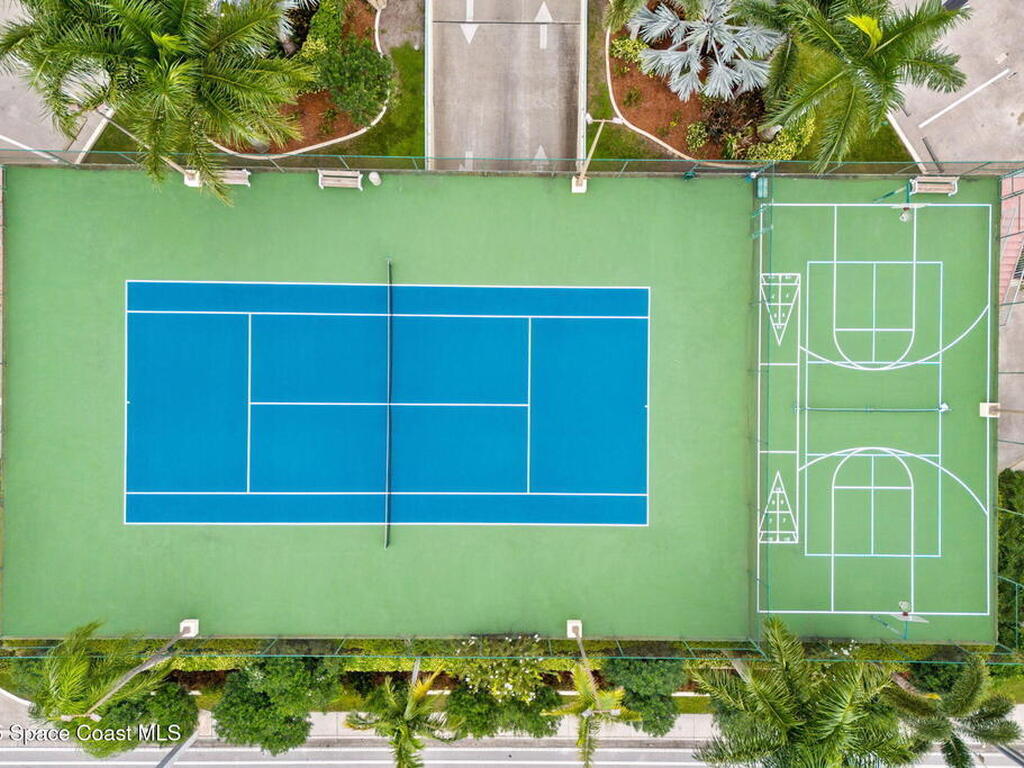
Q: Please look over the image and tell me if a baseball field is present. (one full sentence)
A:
No, there appears to be no baseball field in this shot.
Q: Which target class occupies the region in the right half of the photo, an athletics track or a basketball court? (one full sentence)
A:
There is a basketball court in the right half of the photo.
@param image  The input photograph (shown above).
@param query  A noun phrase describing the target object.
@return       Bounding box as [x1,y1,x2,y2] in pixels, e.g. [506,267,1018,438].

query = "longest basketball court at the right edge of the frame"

[747,179,1000,637]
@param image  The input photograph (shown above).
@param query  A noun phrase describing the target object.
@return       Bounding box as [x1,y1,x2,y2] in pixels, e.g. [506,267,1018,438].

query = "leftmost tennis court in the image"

[3,166,751,640]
